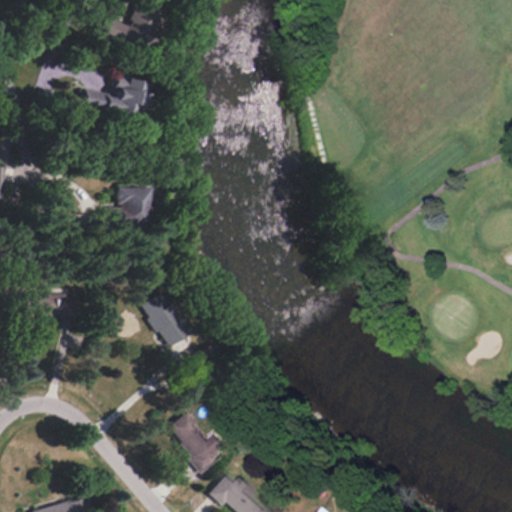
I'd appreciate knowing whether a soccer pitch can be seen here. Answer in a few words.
No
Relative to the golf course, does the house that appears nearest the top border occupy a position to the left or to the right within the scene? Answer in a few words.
on the left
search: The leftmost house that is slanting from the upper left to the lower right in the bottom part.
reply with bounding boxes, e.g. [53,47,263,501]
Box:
[140,298,192,352]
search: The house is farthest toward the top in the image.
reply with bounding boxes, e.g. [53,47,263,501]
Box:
[110,12,150,38]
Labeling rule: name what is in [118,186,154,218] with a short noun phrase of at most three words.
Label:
house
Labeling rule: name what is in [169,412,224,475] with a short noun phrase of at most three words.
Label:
house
